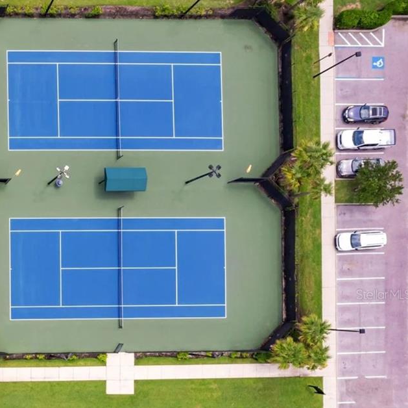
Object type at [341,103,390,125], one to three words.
car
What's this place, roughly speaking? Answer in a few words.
sports ground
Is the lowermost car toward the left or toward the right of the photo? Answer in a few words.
right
